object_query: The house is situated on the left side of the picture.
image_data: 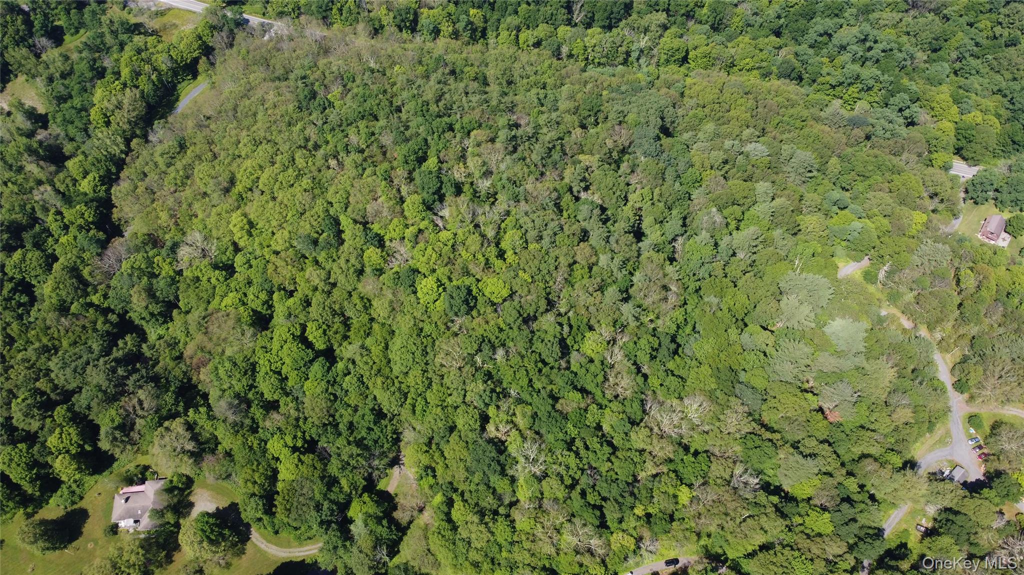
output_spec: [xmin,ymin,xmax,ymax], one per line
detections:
[106,472,171,533]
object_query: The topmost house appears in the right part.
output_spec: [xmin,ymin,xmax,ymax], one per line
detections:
[973,216,1011,249]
